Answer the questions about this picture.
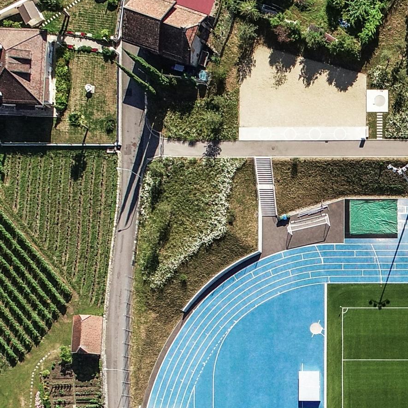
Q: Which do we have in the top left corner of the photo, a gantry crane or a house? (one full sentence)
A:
It is a house that can be seen in the top left corner of the photo.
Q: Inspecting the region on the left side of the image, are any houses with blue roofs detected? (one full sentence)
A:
No, there's no house with a blue roof to be seen on the left side of the image.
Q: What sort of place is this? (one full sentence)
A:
The area seen from above is a sports ground.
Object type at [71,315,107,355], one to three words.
shed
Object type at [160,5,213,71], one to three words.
house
